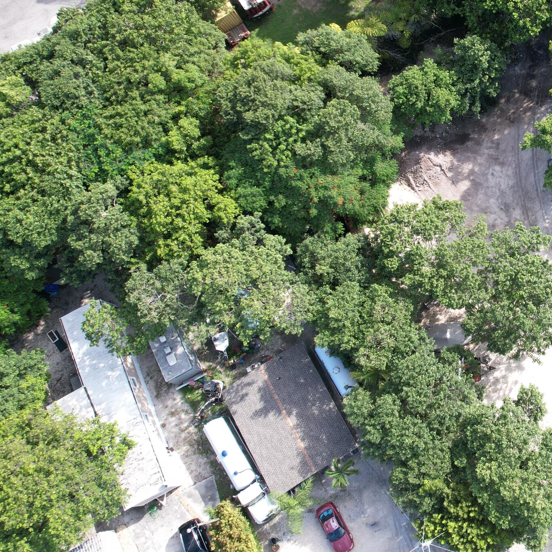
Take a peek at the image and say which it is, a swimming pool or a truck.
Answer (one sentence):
I can see a truck in this picture.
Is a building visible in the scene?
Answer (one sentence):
Yes, the photo shows a building.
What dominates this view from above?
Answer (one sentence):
Most of the picture is covered by trees.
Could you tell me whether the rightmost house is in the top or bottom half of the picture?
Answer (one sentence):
The rightmost house is in the bottom half of the image.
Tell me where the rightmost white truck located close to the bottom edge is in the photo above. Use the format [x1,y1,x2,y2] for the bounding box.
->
[199,414,284,527]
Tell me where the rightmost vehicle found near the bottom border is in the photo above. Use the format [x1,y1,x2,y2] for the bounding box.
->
[317,500,357,552]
